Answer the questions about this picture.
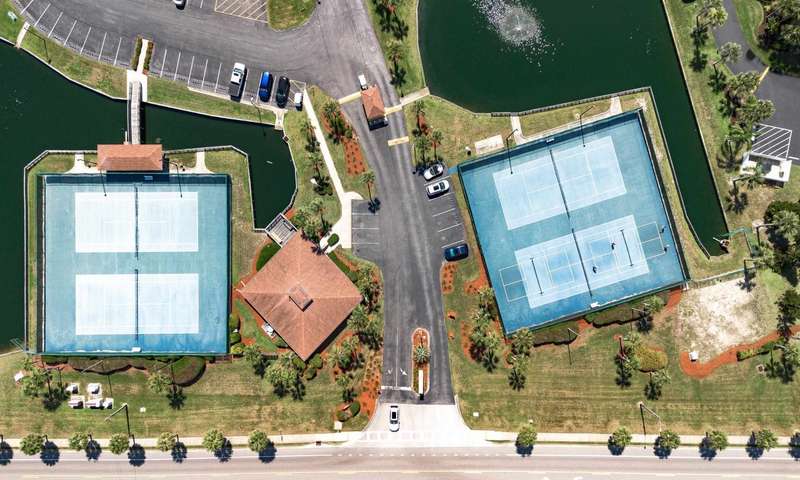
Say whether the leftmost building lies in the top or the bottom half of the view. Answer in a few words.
top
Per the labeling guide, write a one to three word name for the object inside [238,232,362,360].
building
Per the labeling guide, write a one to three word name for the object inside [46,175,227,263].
tennis court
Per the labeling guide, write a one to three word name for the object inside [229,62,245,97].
vehicle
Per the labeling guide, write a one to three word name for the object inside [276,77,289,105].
vehicle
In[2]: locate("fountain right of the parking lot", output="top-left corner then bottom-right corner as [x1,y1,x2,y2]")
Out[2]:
[467,0,564,71]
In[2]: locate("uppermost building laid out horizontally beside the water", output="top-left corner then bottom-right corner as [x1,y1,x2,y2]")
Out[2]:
[97,144,167,170]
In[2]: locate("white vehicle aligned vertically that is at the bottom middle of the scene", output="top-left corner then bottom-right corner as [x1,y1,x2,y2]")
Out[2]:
[388,406,400,432]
